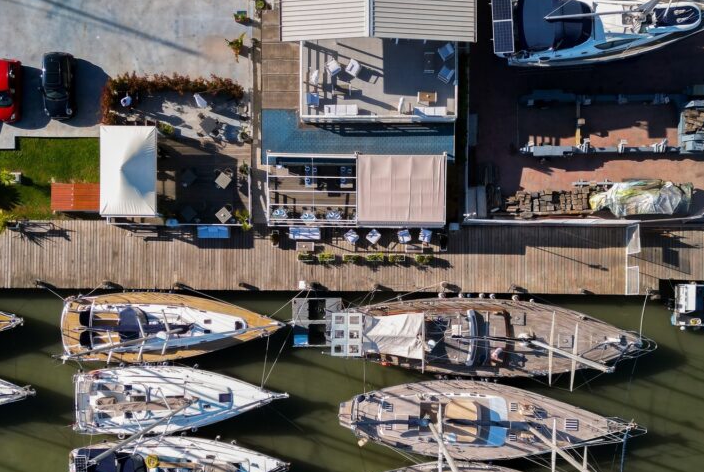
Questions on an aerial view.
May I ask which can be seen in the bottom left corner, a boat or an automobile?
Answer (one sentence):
You can see a boat in the bottom left corner.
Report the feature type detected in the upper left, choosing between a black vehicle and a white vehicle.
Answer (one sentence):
You can see a black vehicle in the upper left.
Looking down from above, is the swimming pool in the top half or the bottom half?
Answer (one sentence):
Seen from above, the swimming pool lies in the top half of the view.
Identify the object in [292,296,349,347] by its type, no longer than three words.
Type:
pier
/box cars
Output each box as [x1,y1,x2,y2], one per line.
[37,51,79,121]
[0,59,24,124]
